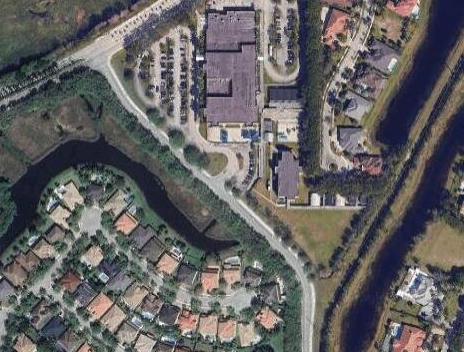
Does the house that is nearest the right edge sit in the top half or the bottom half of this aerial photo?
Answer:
bottom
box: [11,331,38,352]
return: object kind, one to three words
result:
house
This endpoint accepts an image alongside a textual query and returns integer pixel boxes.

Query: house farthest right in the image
[409,272,444,306]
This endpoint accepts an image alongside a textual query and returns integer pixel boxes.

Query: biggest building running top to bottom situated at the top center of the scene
[204,10,259,123]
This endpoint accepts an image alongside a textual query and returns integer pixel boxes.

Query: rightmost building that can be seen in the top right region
[388,0,423,20]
